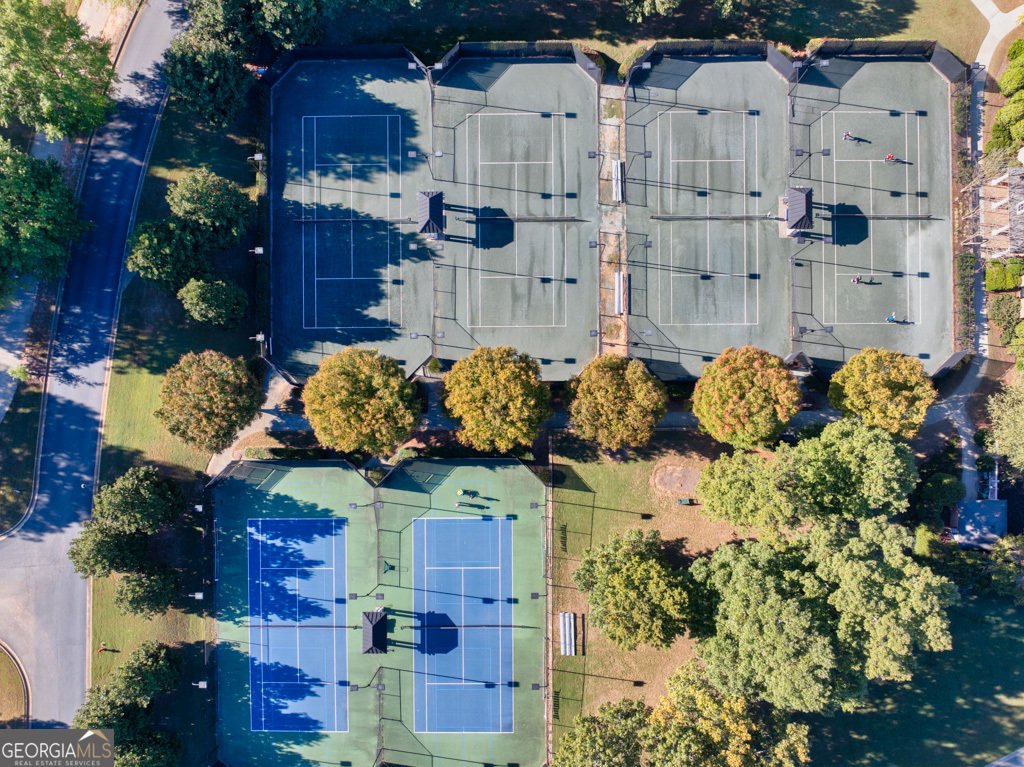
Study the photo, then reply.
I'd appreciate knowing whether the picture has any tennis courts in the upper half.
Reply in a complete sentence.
Yes, in the upper half there is a tennis court.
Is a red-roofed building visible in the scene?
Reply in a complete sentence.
No, the frame has no red-roofed building in it.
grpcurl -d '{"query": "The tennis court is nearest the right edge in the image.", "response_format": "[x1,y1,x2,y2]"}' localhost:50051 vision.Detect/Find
[790,56,952,377]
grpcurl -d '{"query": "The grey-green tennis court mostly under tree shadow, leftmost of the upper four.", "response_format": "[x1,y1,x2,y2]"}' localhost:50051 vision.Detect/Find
[272,59,433,380]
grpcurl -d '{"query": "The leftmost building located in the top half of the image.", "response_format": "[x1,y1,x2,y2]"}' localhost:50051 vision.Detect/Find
[418,189,446,241]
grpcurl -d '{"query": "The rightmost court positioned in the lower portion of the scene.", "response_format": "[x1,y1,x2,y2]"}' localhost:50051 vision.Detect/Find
[374,458,546,767]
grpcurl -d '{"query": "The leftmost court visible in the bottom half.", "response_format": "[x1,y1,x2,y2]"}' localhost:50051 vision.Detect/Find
[214,460,381,767]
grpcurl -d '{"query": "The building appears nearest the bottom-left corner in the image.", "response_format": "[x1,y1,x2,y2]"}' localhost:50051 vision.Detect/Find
[361,608,388,654]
